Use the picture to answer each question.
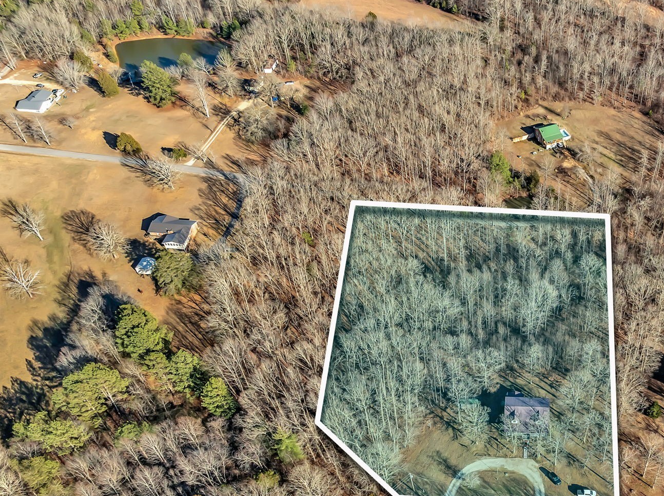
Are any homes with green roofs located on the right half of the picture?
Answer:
Yes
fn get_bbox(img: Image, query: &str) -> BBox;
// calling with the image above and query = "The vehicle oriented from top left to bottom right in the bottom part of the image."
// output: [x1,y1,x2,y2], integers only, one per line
[546,470,561,487]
